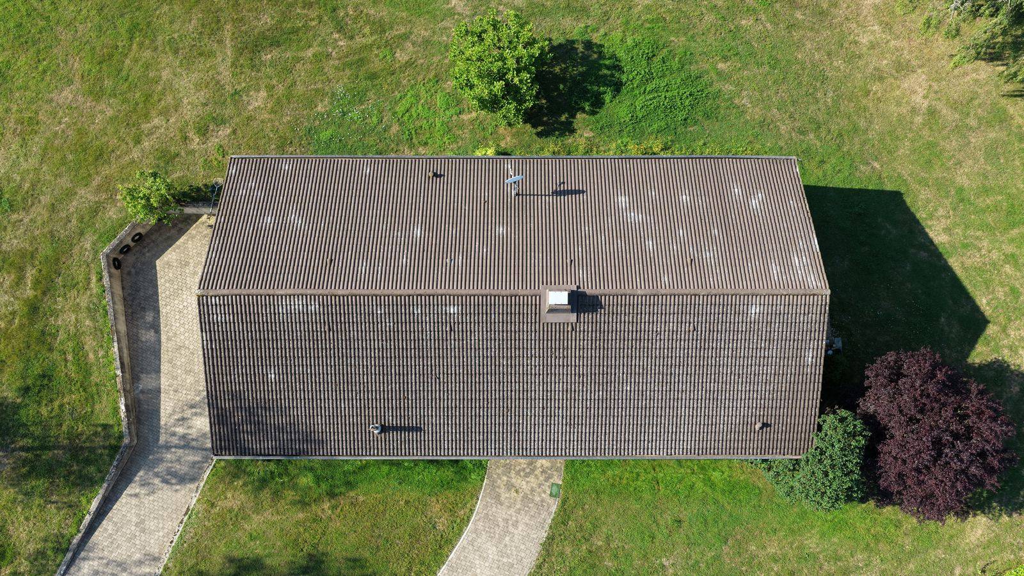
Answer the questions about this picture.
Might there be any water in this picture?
No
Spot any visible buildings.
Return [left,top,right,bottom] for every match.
[194,154,834,459]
